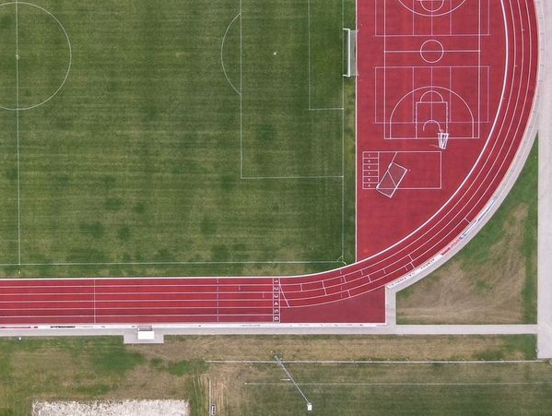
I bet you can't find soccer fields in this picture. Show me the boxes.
[232,362,552,416]
[0,0,356,279]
